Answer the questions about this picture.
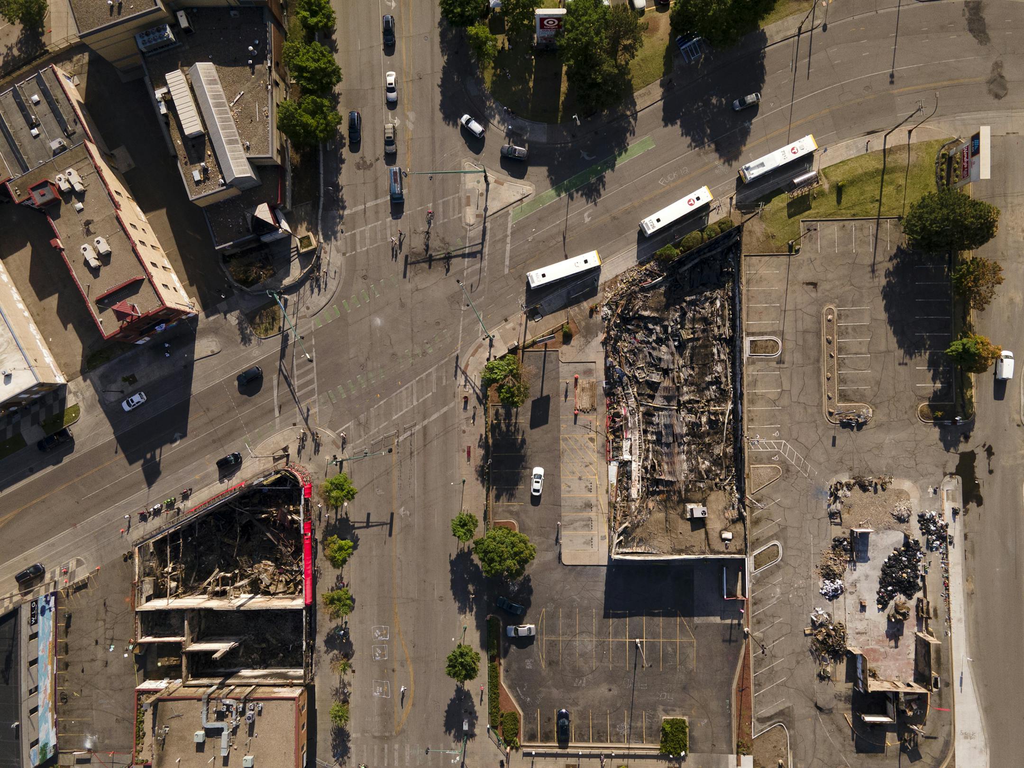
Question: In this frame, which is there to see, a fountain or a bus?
bus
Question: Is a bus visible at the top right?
Yes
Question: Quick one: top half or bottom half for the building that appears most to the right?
bottom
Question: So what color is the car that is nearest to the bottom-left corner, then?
black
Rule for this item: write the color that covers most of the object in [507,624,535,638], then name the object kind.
gray car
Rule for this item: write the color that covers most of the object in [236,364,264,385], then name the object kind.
black car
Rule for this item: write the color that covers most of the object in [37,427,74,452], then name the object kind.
black truck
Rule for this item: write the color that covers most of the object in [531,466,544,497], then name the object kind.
white vehicle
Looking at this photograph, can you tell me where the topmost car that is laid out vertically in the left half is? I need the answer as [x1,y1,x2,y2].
[381,13,396,46]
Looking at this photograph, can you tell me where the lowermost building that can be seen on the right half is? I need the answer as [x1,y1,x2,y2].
[842,626,938,723]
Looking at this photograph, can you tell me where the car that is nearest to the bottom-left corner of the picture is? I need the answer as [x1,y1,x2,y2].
[15,563,47,585]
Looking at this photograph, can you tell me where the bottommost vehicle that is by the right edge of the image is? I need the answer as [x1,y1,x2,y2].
[995,351,1014,380]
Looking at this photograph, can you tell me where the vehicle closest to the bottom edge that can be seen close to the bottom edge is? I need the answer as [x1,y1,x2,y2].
[556,709,570,742]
